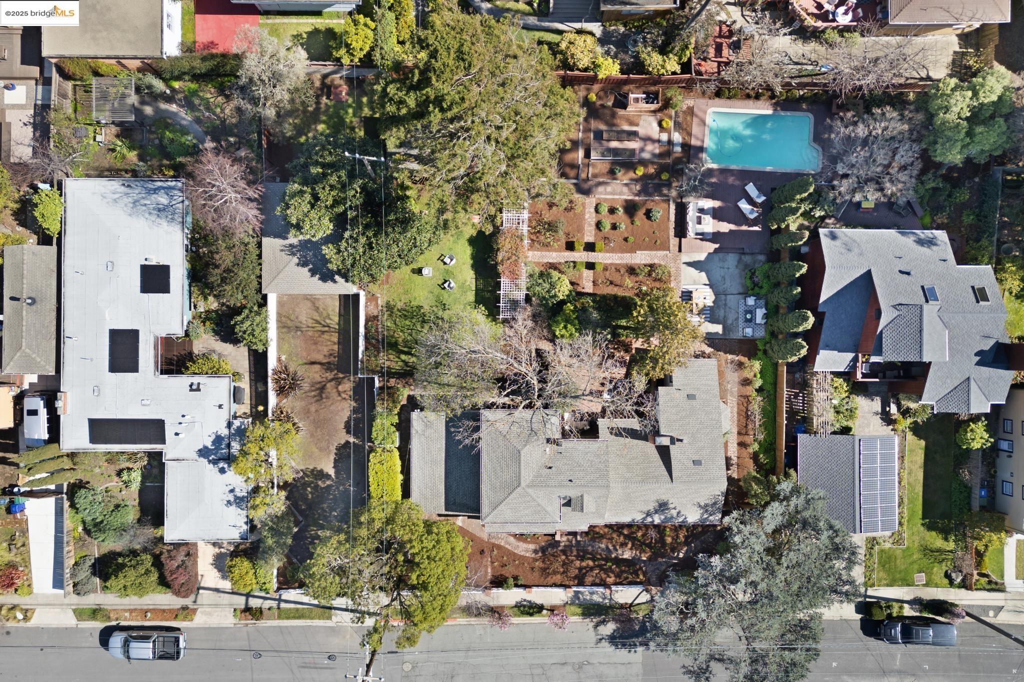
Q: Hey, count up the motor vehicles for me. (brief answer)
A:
three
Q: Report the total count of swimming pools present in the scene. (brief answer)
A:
one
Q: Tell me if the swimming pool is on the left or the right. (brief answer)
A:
right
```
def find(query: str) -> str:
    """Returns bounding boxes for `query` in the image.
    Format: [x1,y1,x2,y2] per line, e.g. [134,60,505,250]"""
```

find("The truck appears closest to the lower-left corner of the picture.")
[105,627,184,664]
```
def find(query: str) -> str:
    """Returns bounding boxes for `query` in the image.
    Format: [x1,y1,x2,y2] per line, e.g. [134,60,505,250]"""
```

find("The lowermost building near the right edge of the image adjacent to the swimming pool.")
[800,228,1024,413]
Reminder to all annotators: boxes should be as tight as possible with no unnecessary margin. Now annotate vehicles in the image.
[105,627,184,664]
[880,616,964,653]
[14,386,57,453]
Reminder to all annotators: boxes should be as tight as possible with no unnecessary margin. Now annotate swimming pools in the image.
[703,107,822,174]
